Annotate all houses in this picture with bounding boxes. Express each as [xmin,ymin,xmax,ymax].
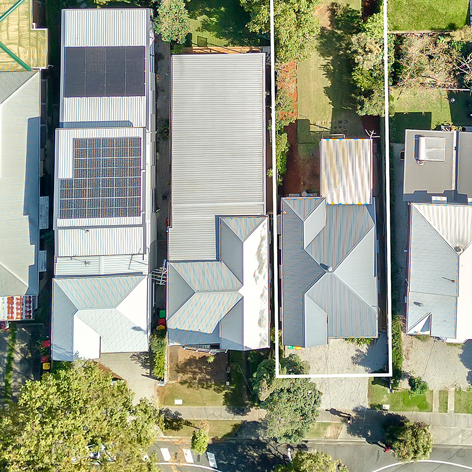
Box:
[51,5,159,362]
[281,137,379,348]
[167,52,271,351]
[401,128,472,344]
[0,71,48,322]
